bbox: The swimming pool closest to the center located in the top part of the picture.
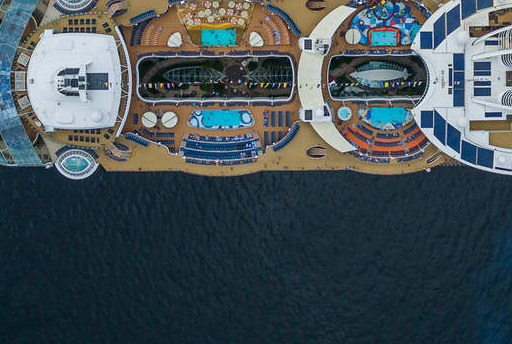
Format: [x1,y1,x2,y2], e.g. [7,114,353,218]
[188,108,256,131]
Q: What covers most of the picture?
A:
water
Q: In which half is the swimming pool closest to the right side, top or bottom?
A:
top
